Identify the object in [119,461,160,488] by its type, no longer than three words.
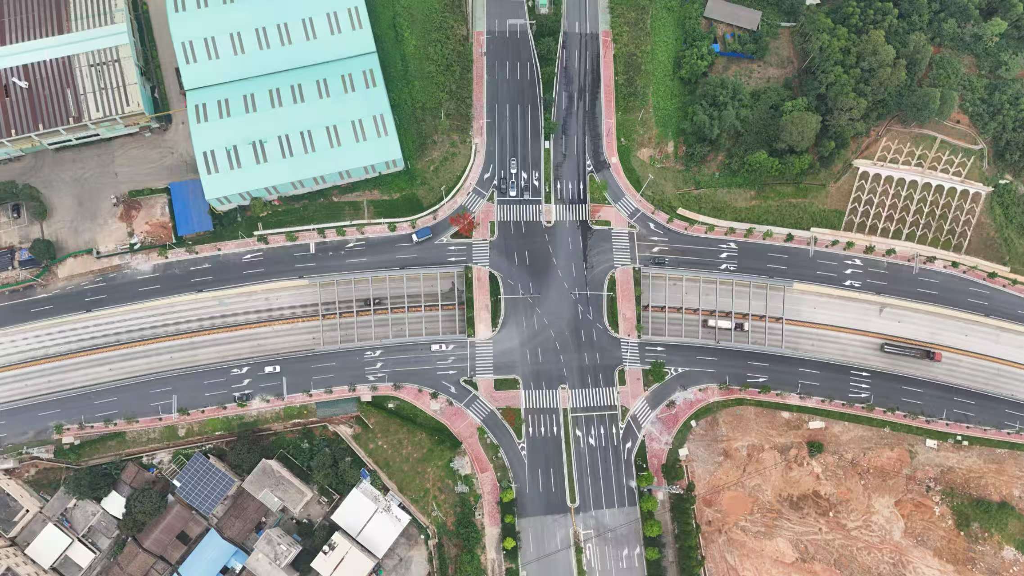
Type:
house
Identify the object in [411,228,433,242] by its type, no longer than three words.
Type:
vehicle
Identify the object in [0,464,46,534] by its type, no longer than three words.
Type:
building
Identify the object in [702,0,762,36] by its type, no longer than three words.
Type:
shed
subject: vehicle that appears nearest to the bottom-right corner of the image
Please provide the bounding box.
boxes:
[879,343,943,362]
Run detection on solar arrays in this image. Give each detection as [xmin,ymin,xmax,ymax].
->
[175,451,240,517]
